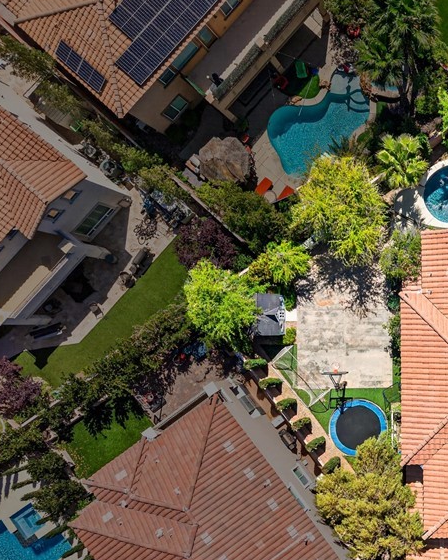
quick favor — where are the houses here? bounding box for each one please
[0,76,131,335]
[2,0,340,137]
[66,377,356,560]
[398,230,448,560]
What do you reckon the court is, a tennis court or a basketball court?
basketball court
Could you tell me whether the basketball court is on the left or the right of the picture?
right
